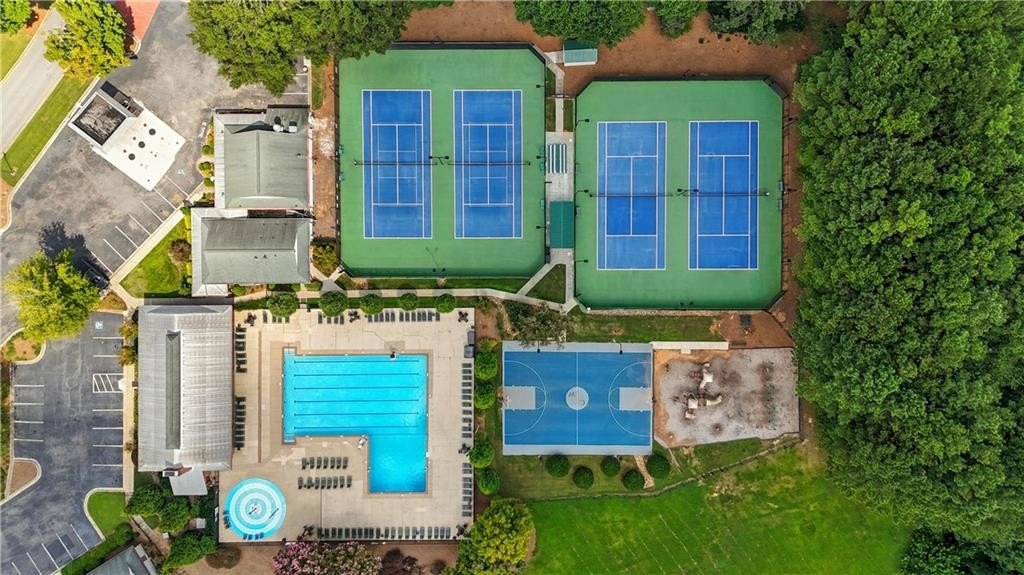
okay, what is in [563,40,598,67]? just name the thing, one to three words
shed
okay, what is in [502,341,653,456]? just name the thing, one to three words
basketball court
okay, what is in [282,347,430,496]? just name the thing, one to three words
swimming pool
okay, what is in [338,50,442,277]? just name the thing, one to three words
tennis court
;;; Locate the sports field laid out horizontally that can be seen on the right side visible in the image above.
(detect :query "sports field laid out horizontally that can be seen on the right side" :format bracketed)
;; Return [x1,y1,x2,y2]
[466,448,930,575]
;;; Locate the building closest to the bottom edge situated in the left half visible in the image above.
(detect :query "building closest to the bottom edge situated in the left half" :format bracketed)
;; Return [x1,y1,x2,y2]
[87,537,162,575]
